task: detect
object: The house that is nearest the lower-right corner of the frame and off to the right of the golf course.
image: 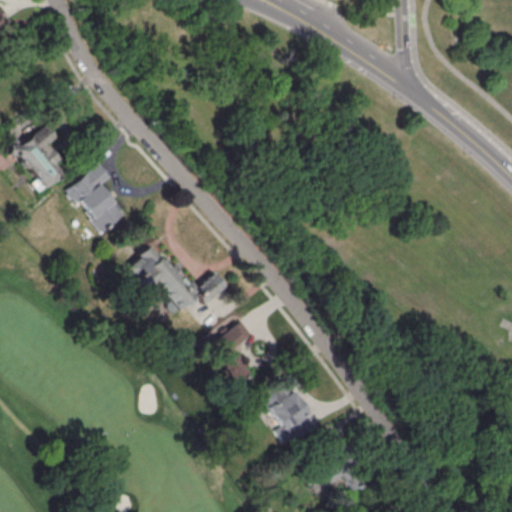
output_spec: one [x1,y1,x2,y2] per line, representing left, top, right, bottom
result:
[330,470,366,494]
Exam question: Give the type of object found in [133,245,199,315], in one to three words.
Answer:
house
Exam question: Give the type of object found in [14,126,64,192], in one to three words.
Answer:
house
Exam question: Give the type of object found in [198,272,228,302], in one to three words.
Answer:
building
